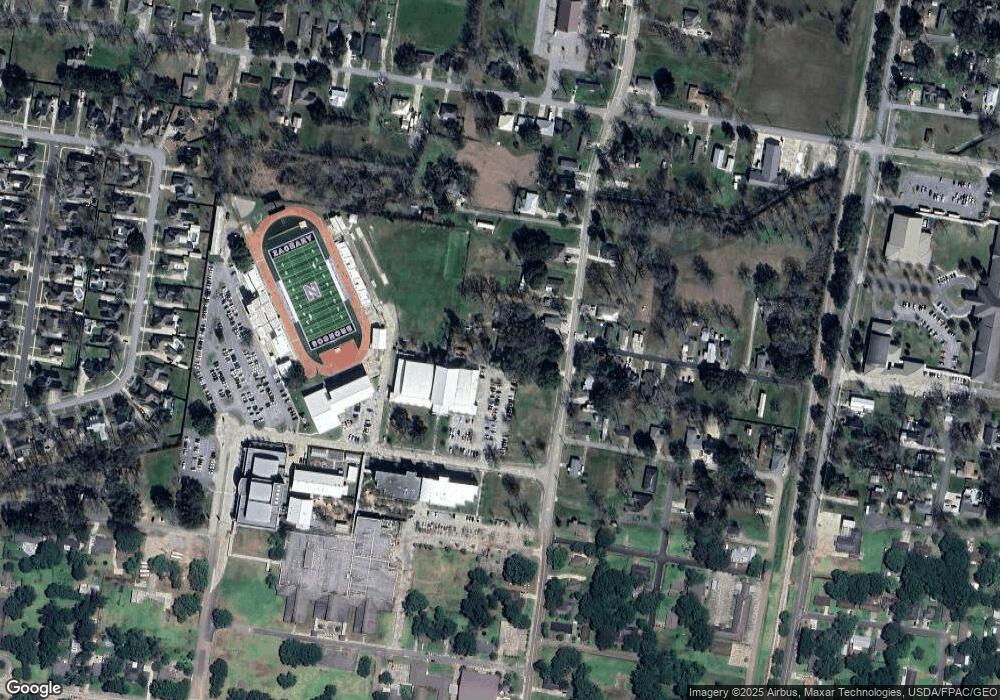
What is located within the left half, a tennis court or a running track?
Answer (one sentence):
You can see a running track within the left half.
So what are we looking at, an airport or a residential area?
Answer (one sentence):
The picture captures a residential area.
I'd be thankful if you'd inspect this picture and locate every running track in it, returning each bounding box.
[243,206,372,380]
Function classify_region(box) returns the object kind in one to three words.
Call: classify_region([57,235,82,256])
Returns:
house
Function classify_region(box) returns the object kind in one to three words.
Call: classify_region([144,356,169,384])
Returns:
house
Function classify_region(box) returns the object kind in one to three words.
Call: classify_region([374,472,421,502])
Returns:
building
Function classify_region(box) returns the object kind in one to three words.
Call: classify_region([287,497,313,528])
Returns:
building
